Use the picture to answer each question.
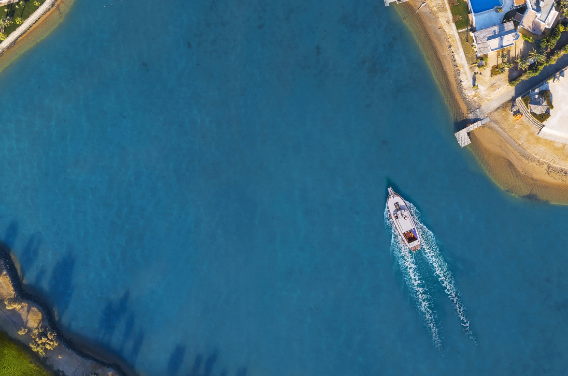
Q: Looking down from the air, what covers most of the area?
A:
water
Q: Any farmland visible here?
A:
No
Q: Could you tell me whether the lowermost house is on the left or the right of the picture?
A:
right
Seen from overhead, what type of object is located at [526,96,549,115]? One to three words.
gazebo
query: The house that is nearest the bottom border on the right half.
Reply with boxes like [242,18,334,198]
[473,21,520,56]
